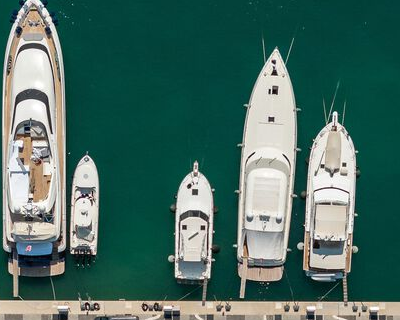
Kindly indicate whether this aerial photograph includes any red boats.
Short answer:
No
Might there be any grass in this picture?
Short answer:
No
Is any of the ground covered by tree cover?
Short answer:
No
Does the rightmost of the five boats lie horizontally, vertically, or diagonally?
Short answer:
vertically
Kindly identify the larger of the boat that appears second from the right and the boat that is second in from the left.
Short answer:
the boat that appears second from the right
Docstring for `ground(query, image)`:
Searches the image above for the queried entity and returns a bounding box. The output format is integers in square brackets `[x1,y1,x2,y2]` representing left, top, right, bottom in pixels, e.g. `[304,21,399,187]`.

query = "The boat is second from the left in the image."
[71,151,100,266]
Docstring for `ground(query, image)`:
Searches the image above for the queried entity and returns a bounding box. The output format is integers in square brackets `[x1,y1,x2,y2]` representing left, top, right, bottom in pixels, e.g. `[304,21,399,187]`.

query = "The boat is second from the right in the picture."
[233,39,300,300]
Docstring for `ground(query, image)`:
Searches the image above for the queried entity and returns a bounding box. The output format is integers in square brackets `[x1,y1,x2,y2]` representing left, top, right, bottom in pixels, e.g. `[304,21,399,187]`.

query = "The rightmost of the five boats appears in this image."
[297,84,362,301]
